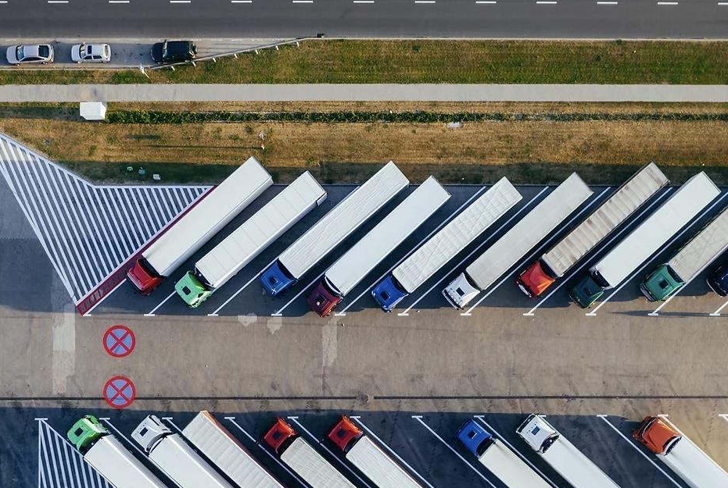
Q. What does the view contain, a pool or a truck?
truck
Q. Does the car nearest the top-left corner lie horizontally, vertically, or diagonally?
horizontally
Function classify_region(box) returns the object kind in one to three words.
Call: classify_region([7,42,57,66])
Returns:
car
